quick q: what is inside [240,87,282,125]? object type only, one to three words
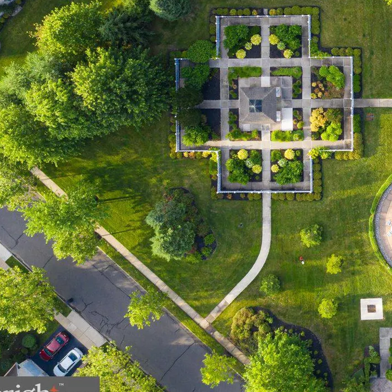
building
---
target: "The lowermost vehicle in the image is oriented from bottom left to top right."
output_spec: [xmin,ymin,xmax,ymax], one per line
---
[53,347,84,378]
